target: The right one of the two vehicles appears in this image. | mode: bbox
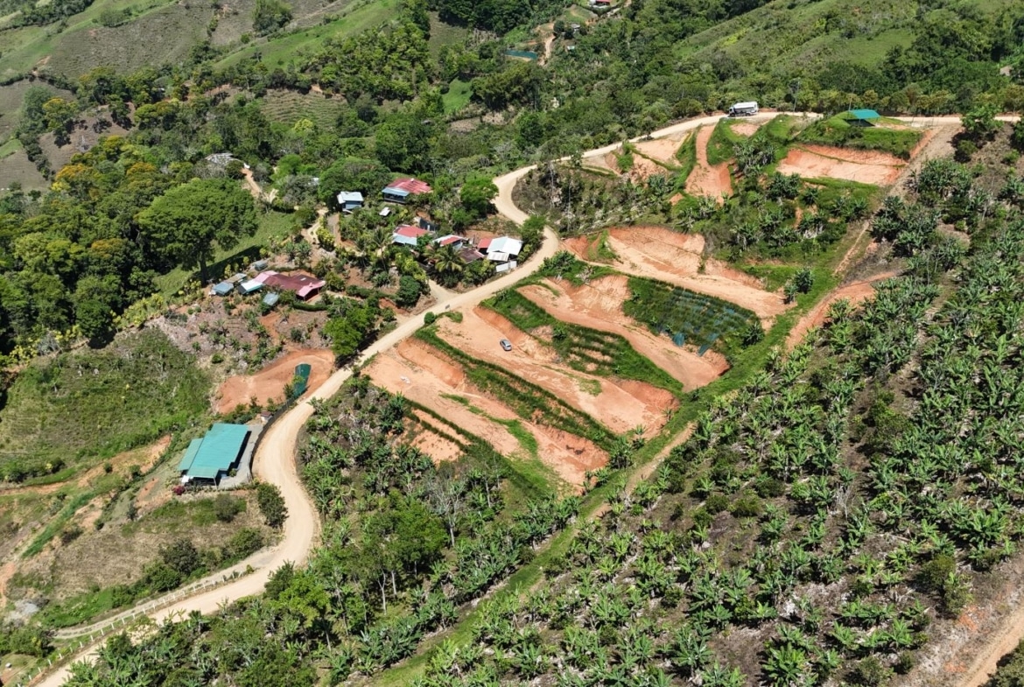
[729,104,758,117]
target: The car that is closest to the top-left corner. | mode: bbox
[499,337,513,349]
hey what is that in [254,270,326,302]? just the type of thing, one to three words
house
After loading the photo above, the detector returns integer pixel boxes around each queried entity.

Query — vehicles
[499,337,513,349]
[729,104,758,117]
